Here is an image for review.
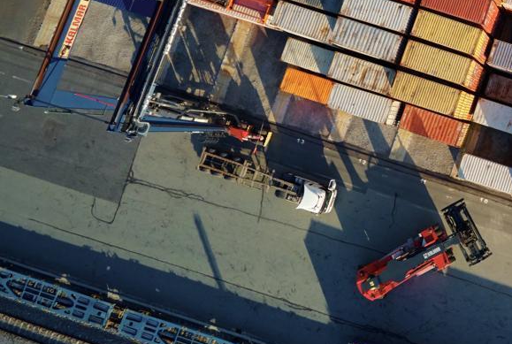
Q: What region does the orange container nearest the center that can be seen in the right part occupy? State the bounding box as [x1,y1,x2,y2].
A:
[273,65,345,104]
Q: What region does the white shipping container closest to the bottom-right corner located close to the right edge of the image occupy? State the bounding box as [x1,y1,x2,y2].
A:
[457,153,512,195]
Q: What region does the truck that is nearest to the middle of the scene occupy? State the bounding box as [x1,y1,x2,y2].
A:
[194,150,342,217]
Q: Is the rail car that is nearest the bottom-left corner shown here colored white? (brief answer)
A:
No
